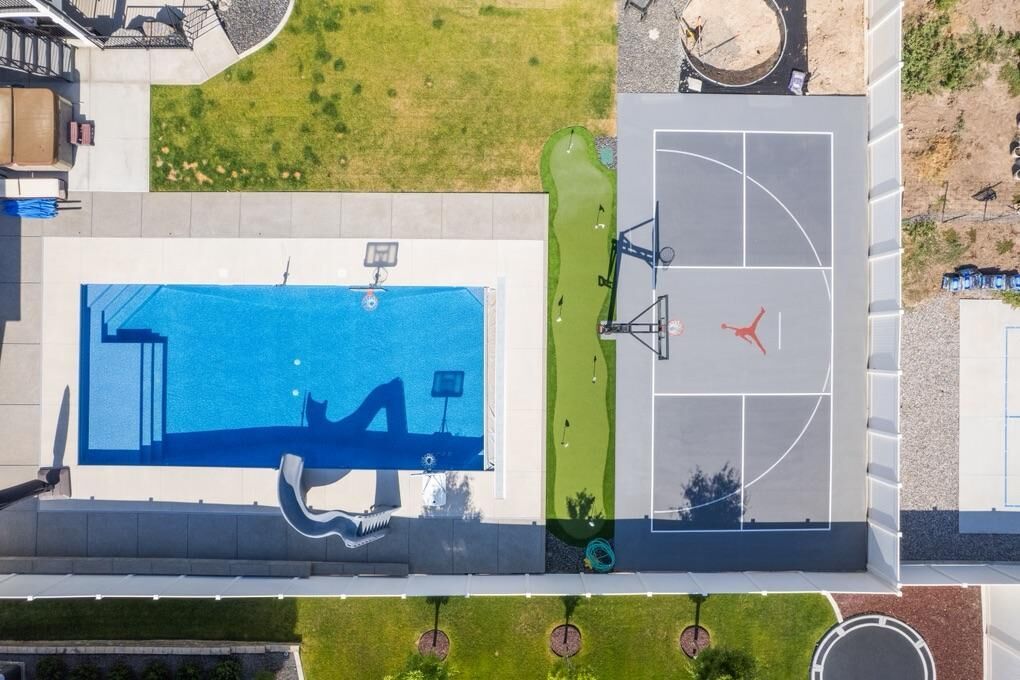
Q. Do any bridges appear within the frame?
No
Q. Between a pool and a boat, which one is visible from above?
pool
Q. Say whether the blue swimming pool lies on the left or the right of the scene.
left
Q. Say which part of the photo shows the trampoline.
bottom right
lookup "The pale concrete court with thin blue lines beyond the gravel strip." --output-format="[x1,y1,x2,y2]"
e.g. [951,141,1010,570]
[960,301,1020,532]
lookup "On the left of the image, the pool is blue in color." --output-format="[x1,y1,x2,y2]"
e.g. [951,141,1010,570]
[77,268,505,499]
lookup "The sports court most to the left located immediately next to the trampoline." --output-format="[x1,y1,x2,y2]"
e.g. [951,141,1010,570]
[616,93,867,573]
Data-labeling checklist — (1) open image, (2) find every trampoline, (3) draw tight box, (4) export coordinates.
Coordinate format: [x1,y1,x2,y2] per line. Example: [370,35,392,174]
[809,611,935,680]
